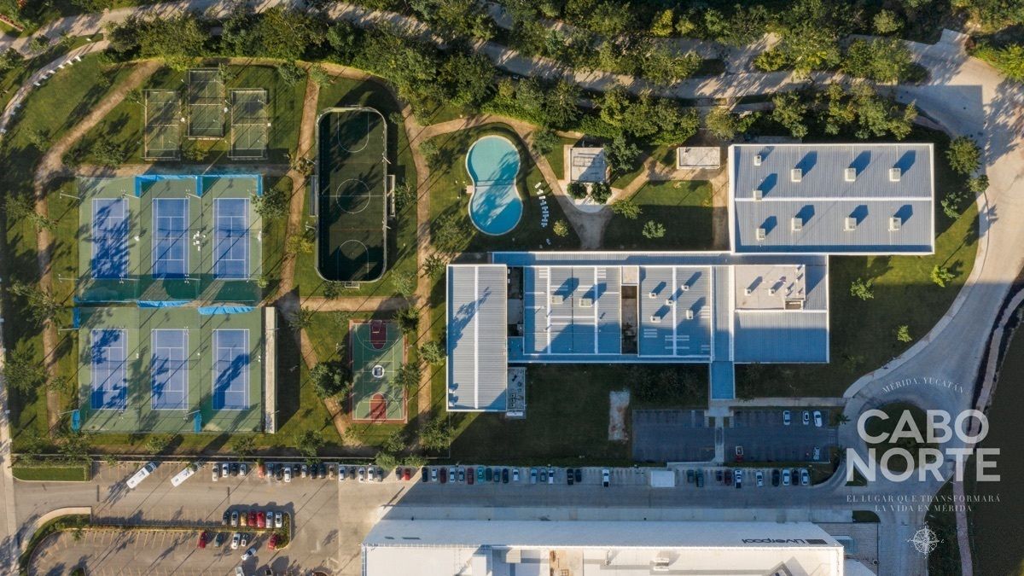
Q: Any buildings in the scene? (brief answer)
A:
Yes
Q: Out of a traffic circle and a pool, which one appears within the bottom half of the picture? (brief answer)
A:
traffic circle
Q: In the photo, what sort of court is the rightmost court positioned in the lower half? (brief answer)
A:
basketball court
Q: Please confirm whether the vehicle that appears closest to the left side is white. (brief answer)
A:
Yes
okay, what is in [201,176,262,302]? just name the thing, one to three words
tennis court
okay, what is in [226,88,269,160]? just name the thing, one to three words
sports court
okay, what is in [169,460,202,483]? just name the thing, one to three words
vehicle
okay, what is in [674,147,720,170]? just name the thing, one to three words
building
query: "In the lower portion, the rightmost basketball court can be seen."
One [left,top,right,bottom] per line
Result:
[349,320,407,423]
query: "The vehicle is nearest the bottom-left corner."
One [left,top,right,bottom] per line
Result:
[122,464,155,488]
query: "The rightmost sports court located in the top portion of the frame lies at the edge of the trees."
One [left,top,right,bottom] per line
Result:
[314,104,386,290]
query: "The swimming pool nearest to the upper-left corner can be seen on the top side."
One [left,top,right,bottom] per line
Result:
[466,135,523,236]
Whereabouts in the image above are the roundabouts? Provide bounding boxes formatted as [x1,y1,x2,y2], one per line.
[861,395,943,477]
